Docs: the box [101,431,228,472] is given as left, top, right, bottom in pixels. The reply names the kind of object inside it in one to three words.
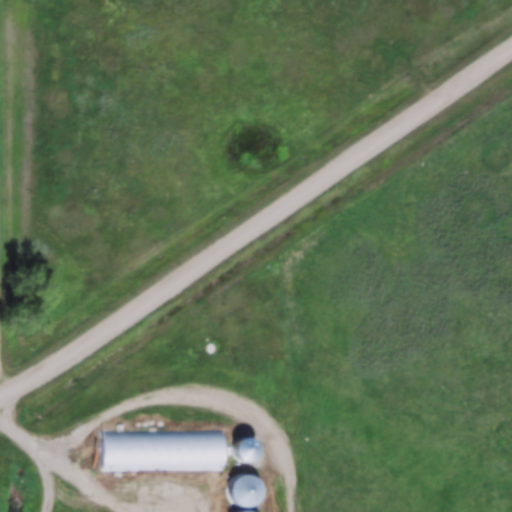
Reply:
barn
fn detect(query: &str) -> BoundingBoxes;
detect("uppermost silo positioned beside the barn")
[232,436,264,464]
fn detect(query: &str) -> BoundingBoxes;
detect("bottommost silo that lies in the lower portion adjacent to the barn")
[228,472,266,510]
